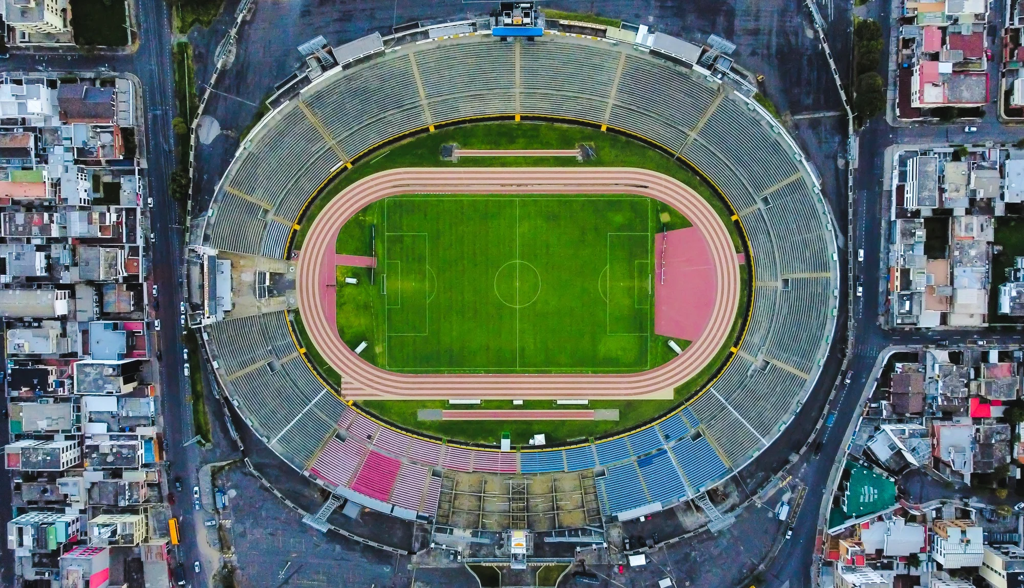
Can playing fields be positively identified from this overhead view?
Yes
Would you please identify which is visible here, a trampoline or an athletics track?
athletics track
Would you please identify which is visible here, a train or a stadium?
stadium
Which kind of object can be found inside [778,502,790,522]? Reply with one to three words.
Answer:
vehicle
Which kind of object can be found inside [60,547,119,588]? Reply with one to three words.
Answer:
building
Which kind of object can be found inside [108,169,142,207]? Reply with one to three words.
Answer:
house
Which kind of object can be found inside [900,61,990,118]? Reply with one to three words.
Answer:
building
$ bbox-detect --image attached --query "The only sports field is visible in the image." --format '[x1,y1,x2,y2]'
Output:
[383,195,651,372]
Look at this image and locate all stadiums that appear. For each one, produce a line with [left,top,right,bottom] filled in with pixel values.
[199,31,839,547]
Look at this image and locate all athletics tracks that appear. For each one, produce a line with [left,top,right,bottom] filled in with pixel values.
[299,168,739,399]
